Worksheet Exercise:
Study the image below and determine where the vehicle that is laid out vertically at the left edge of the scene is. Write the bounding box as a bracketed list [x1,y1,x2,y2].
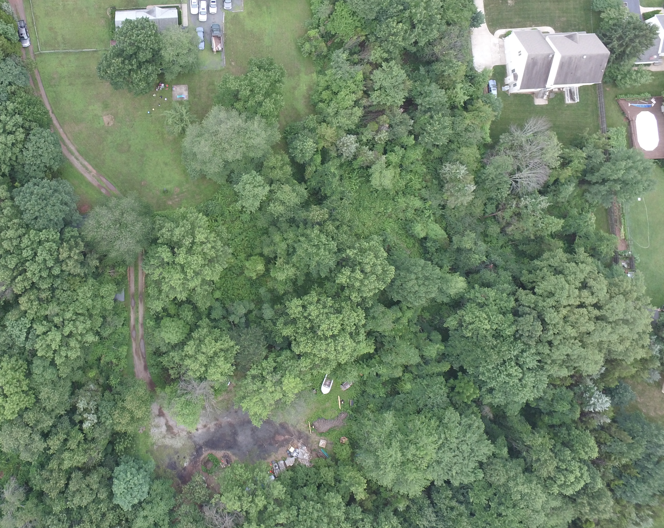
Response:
[17,20,30,46]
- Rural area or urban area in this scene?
rural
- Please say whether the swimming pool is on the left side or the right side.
right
